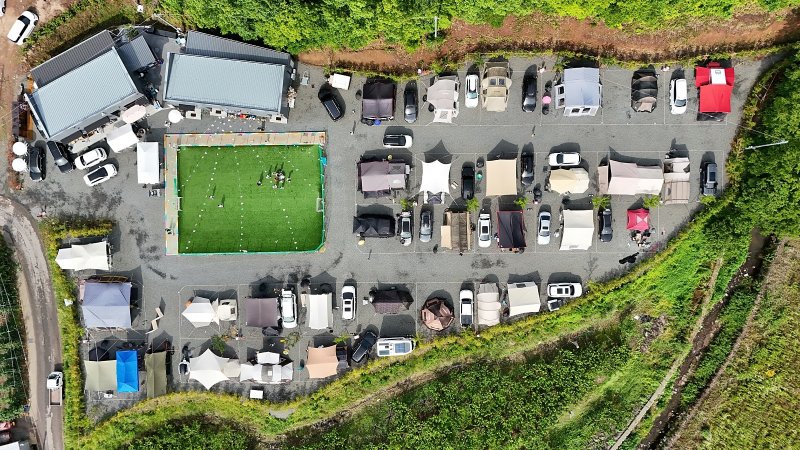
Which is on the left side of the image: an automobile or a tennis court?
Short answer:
automobile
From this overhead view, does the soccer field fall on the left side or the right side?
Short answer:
left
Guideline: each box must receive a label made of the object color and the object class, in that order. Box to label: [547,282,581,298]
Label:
white car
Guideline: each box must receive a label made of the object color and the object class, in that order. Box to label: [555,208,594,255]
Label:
white tent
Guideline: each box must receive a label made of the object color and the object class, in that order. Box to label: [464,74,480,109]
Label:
white car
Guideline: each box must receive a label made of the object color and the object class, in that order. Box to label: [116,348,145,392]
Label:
blue gazebo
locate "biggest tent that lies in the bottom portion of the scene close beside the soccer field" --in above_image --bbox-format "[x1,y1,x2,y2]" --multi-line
[76,275,143,335]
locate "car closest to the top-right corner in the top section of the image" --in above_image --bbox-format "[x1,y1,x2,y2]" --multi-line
[669,78,688,115]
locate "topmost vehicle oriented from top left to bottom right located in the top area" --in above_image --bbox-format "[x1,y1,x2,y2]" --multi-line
[319,91,345,124]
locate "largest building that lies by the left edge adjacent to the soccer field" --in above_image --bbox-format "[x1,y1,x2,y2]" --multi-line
[28,30,151,141]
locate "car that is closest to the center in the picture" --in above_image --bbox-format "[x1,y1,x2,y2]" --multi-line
[397,212,413,245]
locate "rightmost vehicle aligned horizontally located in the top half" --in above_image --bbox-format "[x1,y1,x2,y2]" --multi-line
[548,151,581,167]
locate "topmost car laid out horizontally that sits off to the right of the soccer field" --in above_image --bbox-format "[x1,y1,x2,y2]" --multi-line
[382,133,414,148]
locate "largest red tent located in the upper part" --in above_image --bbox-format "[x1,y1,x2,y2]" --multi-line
[690,63,741,121]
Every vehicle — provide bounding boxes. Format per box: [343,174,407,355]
[461,166,477,199]
[5,9,36,42]
[84,164,120,186]
[597,209,613,243]
[397,212,413,245]
[669,78,688,115]
[477,213,492,247]
[48,140,76,174]
[281,290,298,328]
[403,89,418,123]
[75,148,111,170]
[341,285,357,318]
[44,370,64,405]
[27,148,47,182]
[547,282,581,298]
[419,209,434,241]
[382,133,414,148]
[536,211,552,245]
[319,91,345,124]
[700,162,719,195]
[464,74,480,109]
[520,152,536,185]
[352,329,377,364]
[548,151,581,167]
[459,290,475,327]
[522,78,538,112]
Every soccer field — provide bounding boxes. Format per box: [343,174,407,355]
[165,132,326,255]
